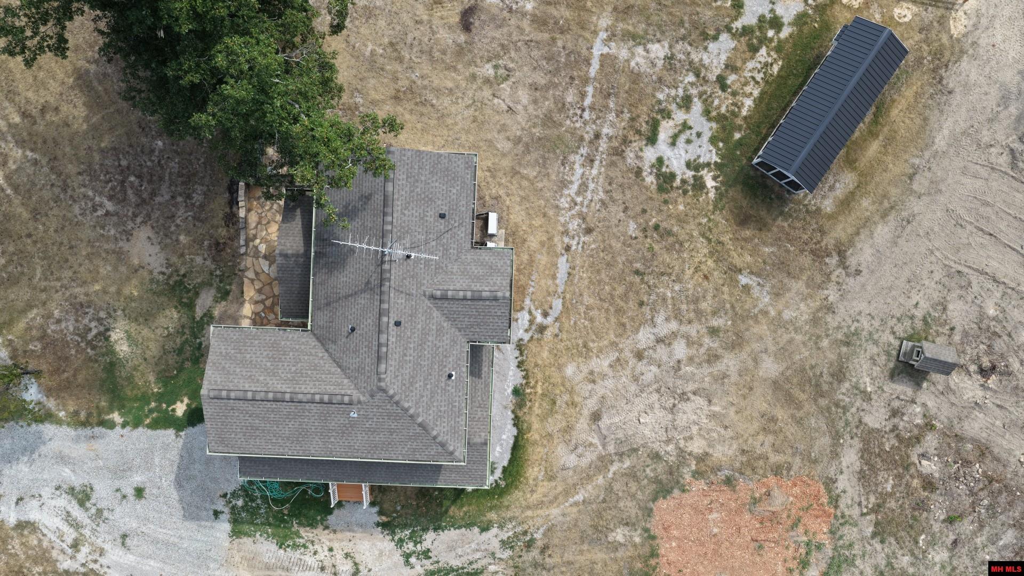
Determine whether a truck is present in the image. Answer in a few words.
No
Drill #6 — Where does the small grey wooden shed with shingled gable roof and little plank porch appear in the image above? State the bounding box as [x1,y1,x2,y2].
[896,339,961,375]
